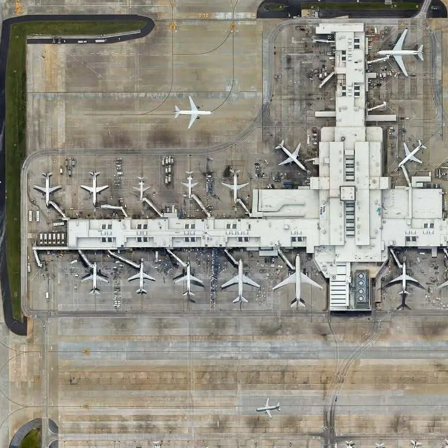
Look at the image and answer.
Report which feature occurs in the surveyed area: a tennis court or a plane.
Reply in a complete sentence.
The one in the frame is a plane.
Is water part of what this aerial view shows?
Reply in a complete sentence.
No, water can't be seen anywhere here.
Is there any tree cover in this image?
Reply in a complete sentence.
No, the scene doesn't show any tree cover.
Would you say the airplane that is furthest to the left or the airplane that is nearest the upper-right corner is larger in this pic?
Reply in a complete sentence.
Of the two, the airplane that is nearest the upper-right corner is larger and the airplane that is furthest to the left is the smaller one.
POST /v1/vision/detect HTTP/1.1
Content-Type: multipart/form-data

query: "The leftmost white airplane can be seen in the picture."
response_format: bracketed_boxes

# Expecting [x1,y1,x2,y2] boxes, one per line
[34,172,62,206]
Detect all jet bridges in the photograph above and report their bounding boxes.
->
[366,101,390,112]
[310,37,336,43]
[389,246,402,270]
[31,246,41,269]
[47,198,67,218]
[223,246,239,264]
[187,193,211,218]
[399,162,411,186]
[234,197,252,217]
[277,246,296,270]
[141,195,164,218]
[317,71,336,90]
[106,249,142,270]
[166,246,189,267]
[77,249,94,270]
[97,203,128,217]
[365,54,392,64]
